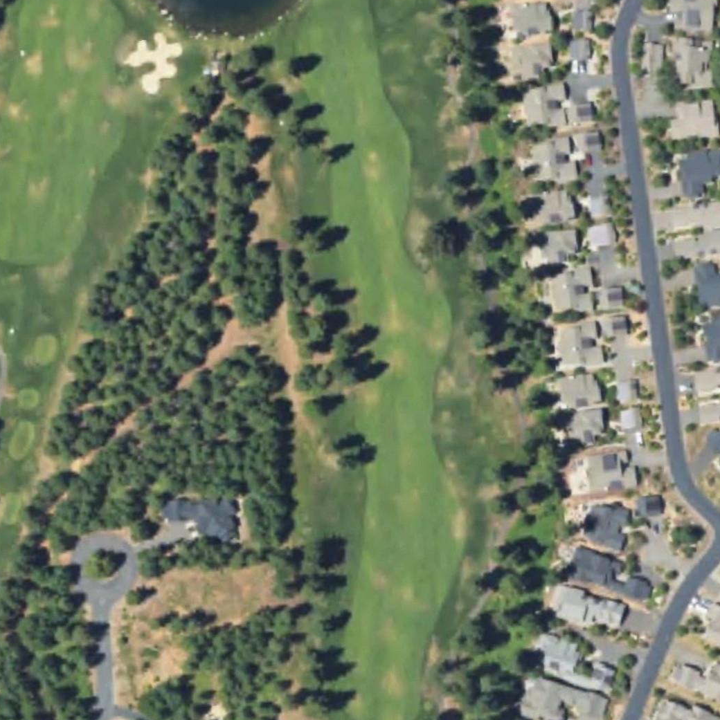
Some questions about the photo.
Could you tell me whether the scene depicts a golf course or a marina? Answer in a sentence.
The picture captures a golf course.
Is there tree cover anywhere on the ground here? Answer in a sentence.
Yes, there's tree cover in this view.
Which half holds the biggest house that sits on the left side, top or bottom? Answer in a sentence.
The biggest house that sits on the left side sits in the bottom half of the picture.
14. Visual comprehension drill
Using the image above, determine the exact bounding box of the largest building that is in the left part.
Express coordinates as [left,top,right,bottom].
[163,493,237,541]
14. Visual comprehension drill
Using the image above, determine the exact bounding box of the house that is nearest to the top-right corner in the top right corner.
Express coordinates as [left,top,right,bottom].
[668,0,718,34]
